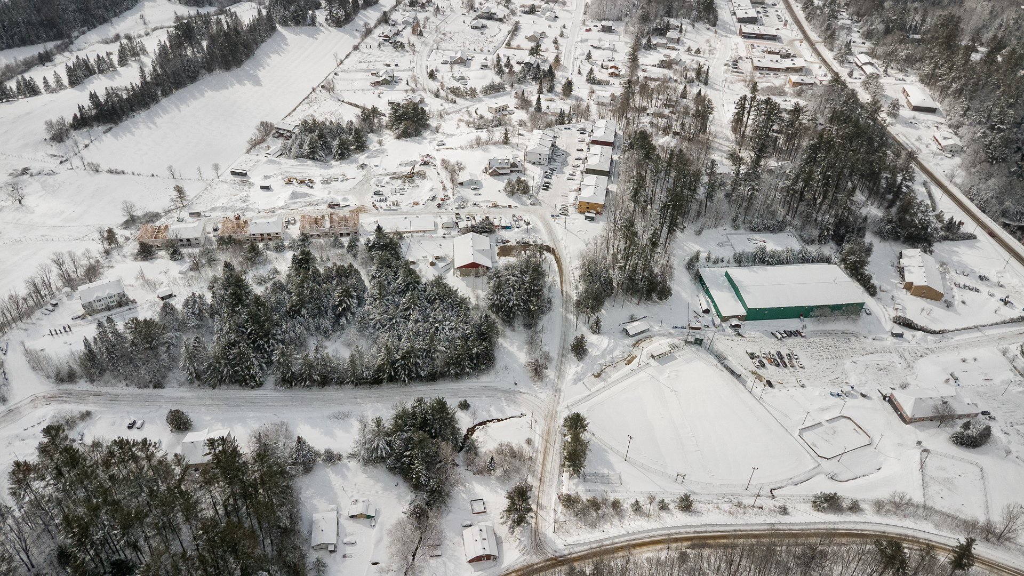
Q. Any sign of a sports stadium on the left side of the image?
No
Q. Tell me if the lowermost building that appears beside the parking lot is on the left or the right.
right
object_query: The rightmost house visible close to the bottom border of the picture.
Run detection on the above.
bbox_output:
[464,520,498,561]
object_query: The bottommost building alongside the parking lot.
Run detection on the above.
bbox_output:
[888,387,979,423]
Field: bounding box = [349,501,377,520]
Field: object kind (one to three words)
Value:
building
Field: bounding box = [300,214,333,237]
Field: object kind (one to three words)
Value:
house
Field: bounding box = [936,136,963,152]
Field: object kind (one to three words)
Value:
house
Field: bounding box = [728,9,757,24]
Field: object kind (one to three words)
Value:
building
